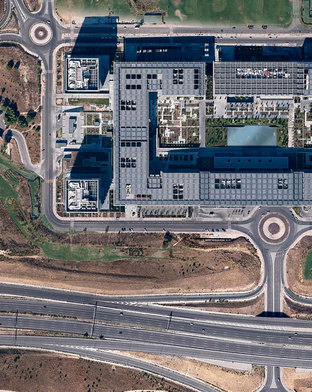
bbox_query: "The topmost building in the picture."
[65,56,110,91]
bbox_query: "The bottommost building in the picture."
[66,173,109,212]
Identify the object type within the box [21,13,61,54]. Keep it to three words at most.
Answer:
roundabout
